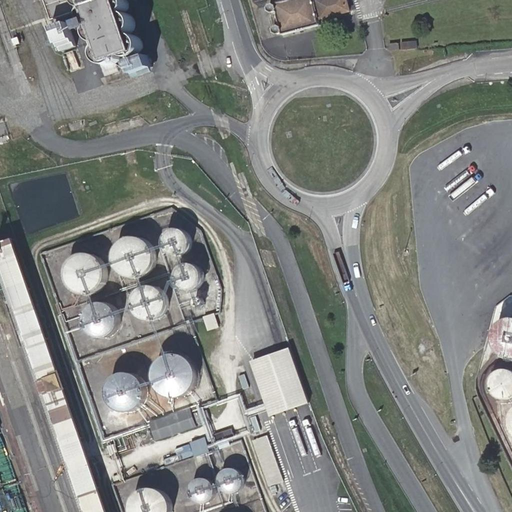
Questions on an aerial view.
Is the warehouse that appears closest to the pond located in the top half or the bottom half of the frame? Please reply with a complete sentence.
It is in the bottom half that the warehouse that appears closest to the pond appears.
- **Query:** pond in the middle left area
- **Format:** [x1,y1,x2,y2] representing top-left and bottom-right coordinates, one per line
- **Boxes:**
[10,172,82,237]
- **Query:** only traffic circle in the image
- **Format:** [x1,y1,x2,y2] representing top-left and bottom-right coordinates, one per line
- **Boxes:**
[248,65,399,221]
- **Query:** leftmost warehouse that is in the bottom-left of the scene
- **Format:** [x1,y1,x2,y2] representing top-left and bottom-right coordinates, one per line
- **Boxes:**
[0,238,110,512]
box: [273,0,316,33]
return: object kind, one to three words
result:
house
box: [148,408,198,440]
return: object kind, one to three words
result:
shed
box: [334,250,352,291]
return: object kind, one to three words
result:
vehicle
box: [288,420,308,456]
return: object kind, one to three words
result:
vehicle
